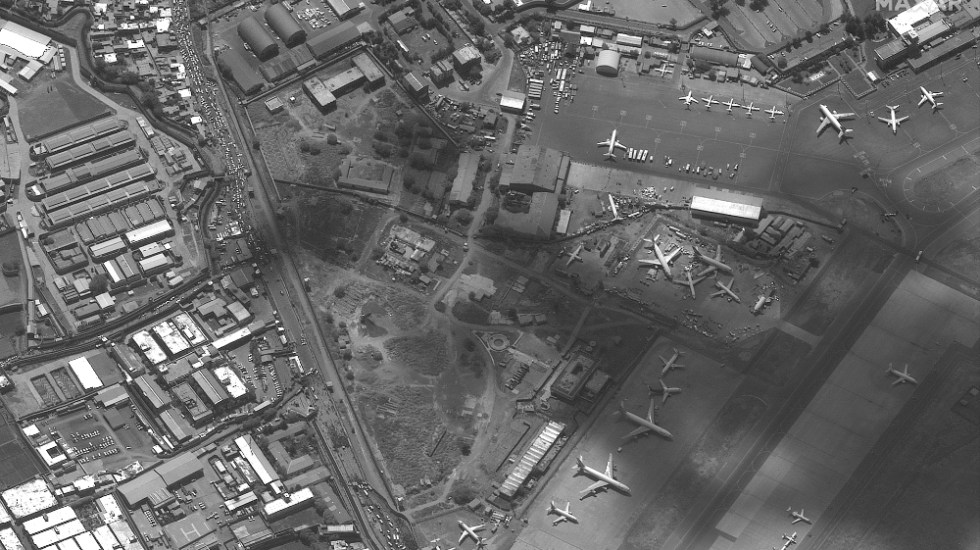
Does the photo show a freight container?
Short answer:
No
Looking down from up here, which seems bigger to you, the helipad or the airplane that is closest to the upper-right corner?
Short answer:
the helipad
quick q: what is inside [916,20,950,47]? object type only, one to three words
building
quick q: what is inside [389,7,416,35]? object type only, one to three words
house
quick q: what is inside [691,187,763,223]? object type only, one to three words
hangar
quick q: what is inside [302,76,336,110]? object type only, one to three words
building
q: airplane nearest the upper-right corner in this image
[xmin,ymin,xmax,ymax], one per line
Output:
[919,87,943,111]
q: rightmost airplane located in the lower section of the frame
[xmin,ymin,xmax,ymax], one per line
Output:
[887,364,918,385]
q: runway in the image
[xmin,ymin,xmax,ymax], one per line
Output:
[699,271,980,550]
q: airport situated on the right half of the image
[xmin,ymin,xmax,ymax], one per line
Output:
[411,38,980,550]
